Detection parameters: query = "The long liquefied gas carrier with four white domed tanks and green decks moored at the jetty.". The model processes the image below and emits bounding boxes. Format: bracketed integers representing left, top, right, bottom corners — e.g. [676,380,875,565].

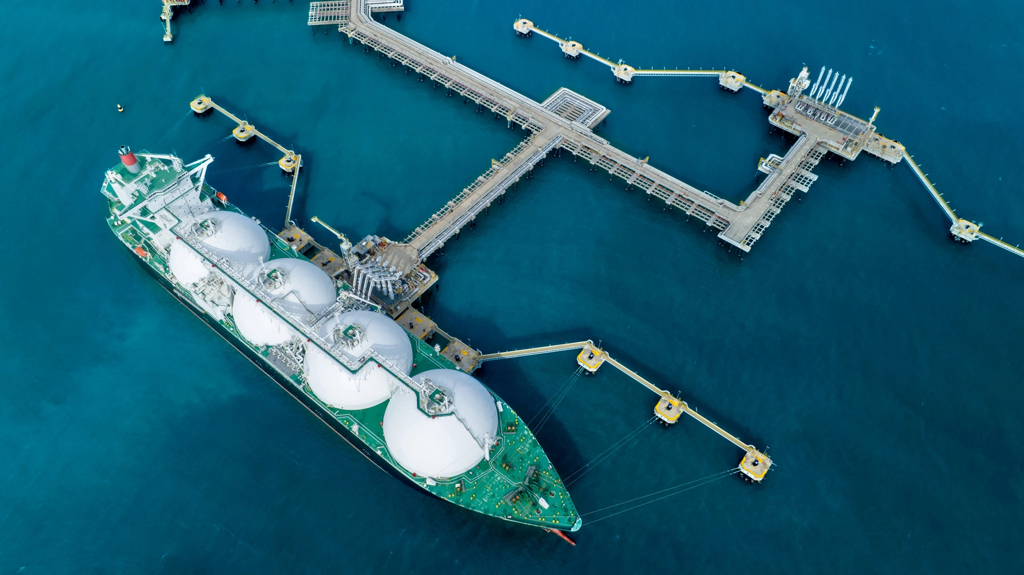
[94,139,583,545]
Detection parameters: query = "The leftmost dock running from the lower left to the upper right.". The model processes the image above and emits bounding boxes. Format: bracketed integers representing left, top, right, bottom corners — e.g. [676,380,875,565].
[400,127,566,268]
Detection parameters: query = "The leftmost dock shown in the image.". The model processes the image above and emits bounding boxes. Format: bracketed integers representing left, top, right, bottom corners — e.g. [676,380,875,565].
[307,0,406,32]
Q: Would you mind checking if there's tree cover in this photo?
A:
No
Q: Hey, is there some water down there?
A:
Yes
